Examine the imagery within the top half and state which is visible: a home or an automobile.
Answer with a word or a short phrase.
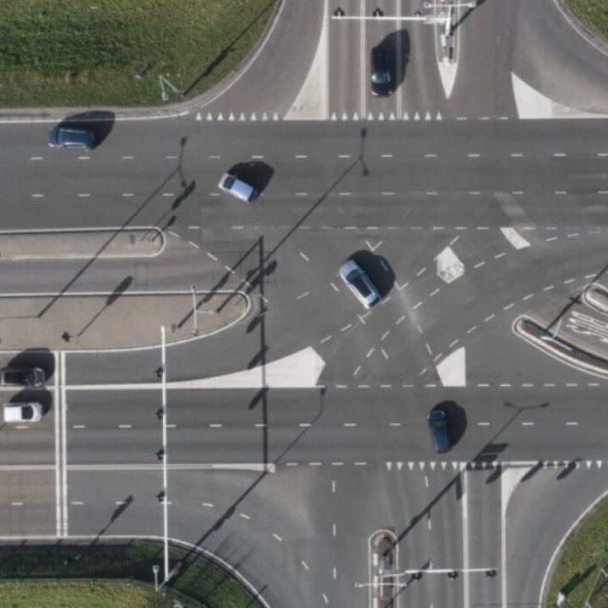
automobile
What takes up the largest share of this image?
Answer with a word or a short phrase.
paved ground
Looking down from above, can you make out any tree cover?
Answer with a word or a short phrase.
No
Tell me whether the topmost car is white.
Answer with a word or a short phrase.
No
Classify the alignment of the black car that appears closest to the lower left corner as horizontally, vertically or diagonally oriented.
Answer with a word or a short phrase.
horizontally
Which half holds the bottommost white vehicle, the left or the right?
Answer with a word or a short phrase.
left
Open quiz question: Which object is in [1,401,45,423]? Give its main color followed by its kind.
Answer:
white vehicle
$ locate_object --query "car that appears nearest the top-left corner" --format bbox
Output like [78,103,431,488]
[49,126,96,150]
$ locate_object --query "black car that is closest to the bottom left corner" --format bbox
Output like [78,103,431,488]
[1,364,48,387]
